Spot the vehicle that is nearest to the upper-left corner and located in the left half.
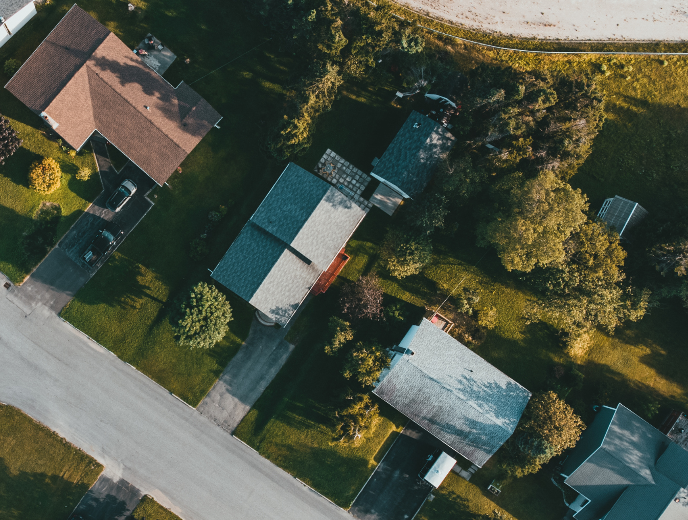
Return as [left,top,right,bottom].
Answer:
[104,176,138,215]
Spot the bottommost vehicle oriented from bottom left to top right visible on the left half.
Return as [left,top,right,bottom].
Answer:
[78,220,123,270]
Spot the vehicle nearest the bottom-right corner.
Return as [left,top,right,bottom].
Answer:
[421,443,459,492]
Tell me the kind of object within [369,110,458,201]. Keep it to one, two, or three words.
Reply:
building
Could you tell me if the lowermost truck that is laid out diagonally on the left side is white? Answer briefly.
No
